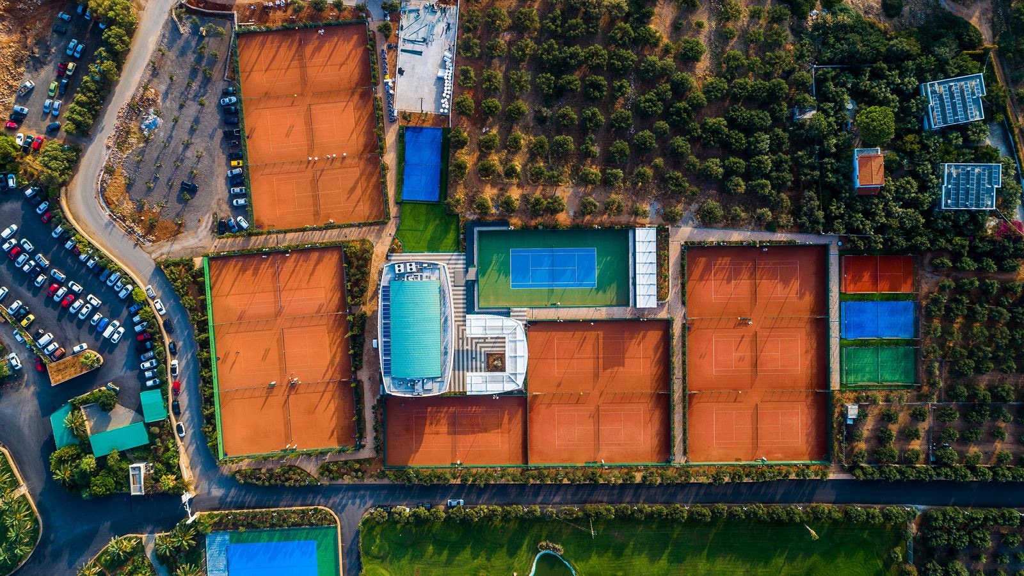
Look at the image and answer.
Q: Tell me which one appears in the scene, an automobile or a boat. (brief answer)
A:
automobile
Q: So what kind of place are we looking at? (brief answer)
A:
sports ground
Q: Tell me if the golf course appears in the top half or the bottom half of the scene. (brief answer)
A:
bottom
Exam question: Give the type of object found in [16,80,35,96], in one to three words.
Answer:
vehicle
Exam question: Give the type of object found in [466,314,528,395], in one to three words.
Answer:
building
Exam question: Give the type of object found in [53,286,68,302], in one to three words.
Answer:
car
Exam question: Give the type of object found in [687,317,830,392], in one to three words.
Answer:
tennis court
